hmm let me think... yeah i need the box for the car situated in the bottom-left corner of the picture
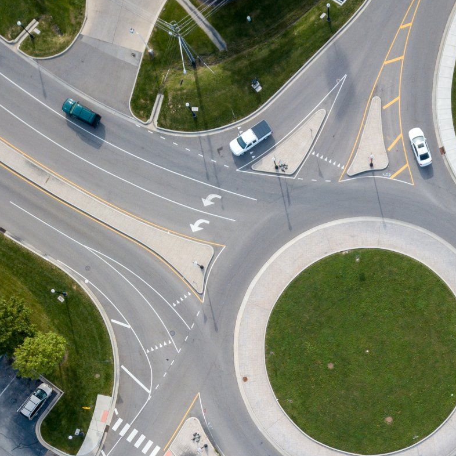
[20,383,53,420]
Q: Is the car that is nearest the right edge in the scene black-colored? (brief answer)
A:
No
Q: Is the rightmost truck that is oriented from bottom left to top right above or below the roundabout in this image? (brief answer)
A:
above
